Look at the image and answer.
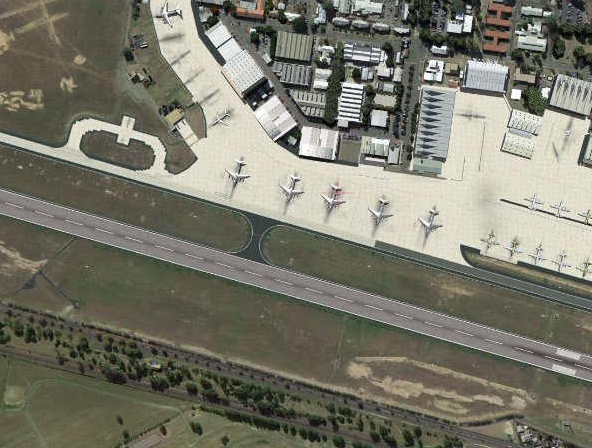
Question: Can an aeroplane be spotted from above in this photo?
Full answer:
Yes, an aeroplane can be made out from above.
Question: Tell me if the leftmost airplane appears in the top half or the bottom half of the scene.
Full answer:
Seen from above, the leftmost airplane lies in the top half of the view.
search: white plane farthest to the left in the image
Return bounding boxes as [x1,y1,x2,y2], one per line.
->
[155,1,183,26]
